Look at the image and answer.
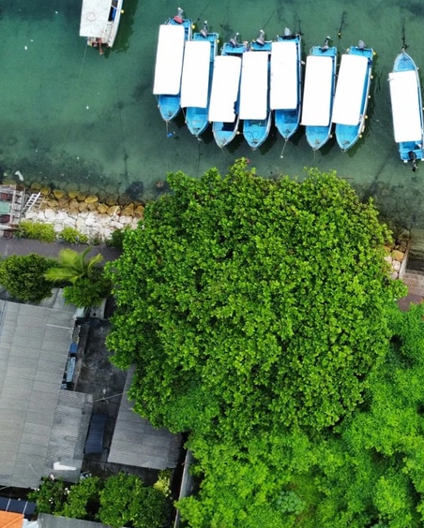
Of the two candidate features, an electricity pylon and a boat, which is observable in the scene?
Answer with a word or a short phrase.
boat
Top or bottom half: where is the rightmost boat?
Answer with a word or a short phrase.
top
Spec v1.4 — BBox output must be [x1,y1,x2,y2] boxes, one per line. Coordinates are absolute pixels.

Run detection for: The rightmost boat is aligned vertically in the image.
[389,50,424,172]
